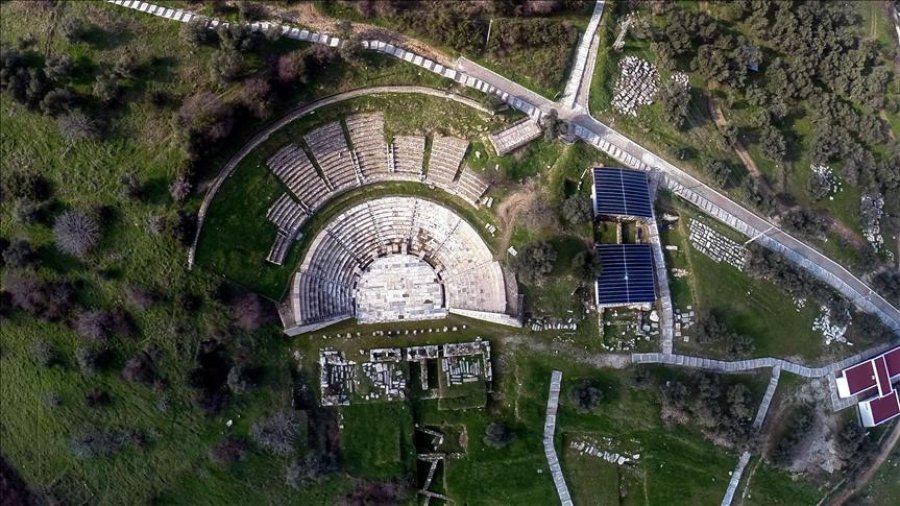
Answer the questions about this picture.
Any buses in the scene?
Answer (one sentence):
No, no bus is visible in the scene.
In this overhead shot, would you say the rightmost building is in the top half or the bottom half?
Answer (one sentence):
It is in the bottom half that the rightmost building appears.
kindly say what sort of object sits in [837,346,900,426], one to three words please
building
